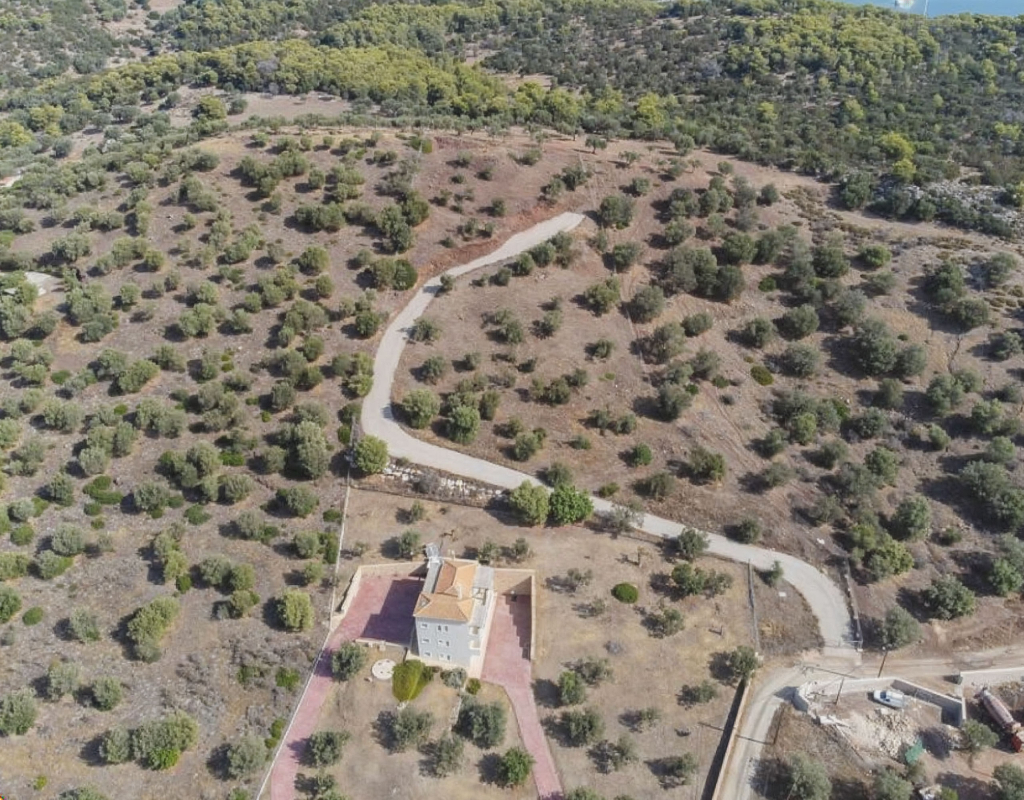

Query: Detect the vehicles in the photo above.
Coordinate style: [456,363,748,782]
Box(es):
[975,687,1024,756]
[871,688,908,712]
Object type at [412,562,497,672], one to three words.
house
